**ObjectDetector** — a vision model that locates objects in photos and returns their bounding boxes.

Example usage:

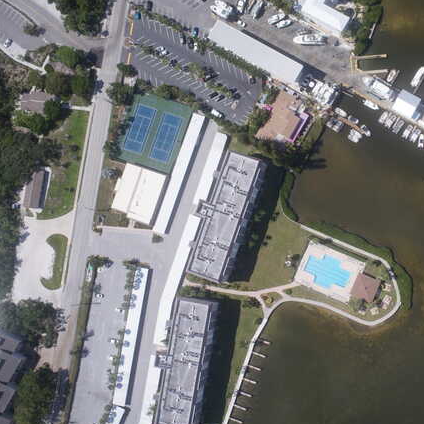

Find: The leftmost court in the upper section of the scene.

[111,94,161,166]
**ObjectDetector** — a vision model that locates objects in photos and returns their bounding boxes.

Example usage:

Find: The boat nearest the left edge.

[207,0,237,21]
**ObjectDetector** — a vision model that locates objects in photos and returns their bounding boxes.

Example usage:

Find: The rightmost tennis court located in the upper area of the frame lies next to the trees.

[140,100,193,174]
